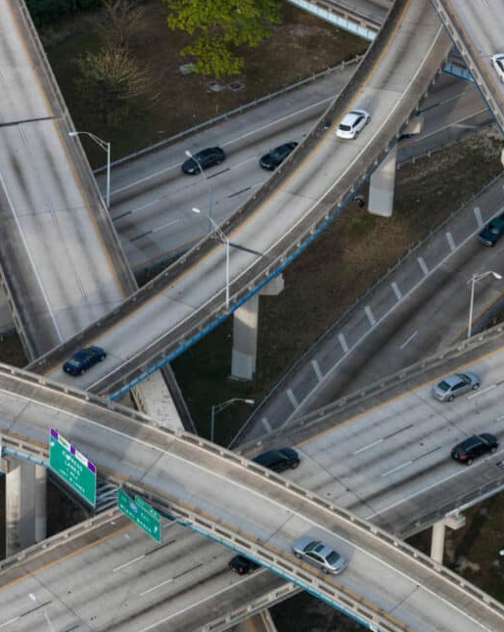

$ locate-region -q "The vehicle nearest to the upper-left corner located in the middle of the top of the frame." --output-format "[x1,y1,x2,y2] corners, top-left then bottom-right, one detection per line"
[183,145,225,172]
